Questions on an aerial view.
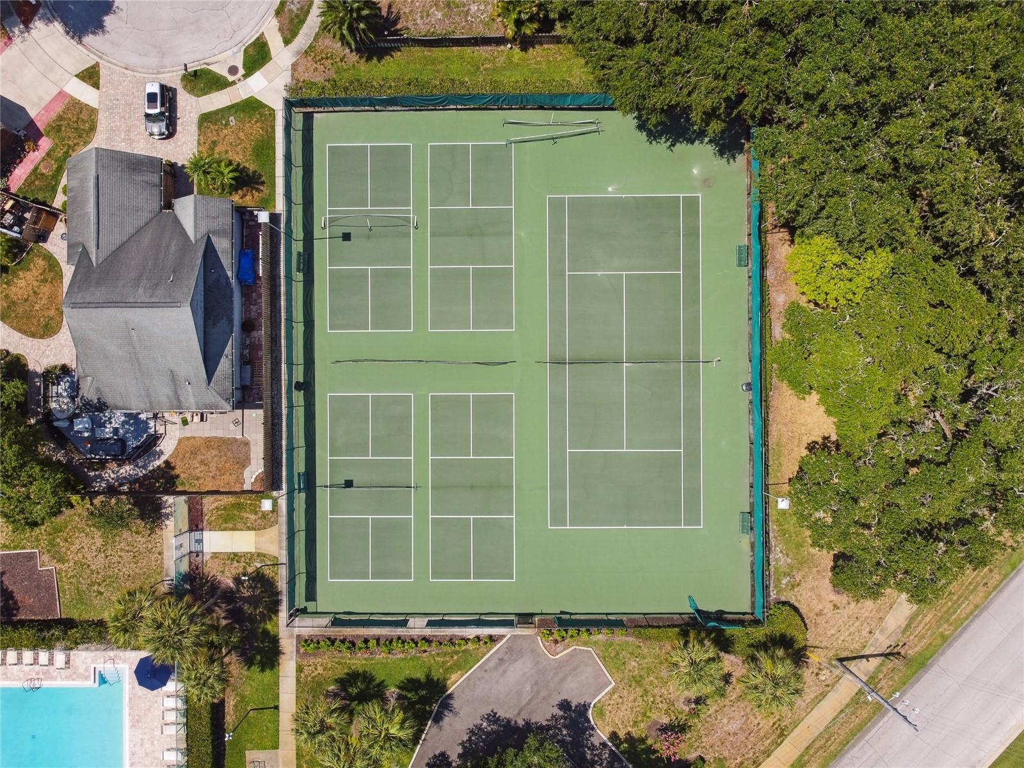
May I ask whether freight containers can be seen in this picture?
No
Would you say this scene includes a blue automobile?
No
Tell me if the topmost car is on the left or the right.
left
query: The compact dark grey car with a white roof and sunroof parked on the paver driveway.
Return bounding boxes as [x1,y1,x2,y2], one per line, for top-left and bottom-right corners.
[140,83,174,141]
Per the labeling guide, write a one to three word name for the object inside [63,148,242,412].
house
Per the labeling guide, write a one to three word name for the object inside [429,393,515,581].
sports court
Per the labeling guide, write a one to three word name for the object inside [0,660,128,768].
swimming pool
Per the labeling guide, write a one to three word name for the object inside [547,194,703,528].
tennis court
